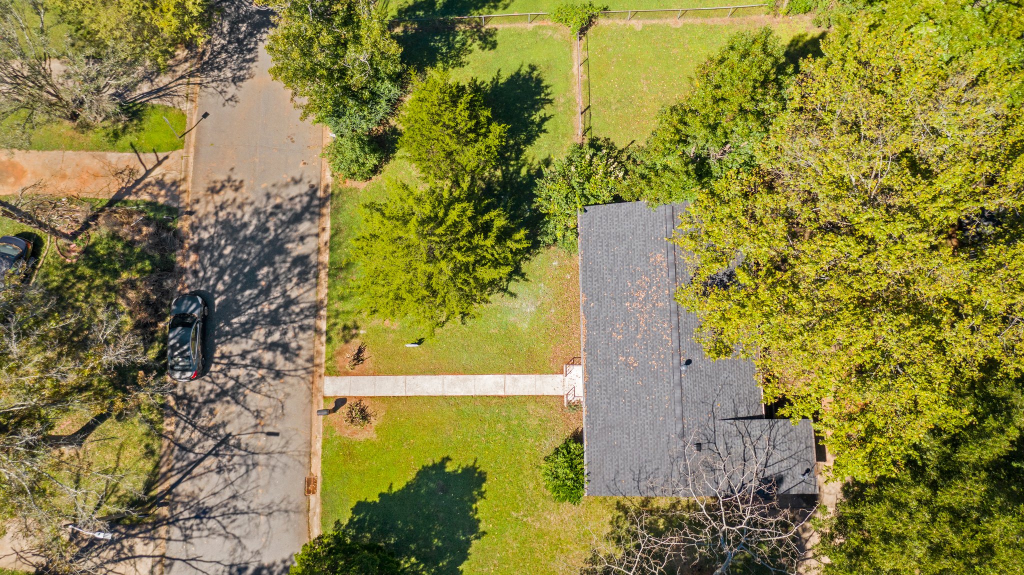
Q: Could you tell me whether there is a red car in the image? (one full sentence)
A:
No, there is no red car in the image.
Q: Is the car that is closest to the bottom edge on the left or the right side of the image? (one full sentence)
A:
The car that is closest to the bottom edge appears in the left half of the scene.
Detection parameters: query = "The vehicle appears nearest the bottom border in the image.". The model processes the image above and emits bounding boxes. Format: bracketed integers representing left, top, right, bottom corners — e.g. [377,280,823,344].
[165,294,211,383]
